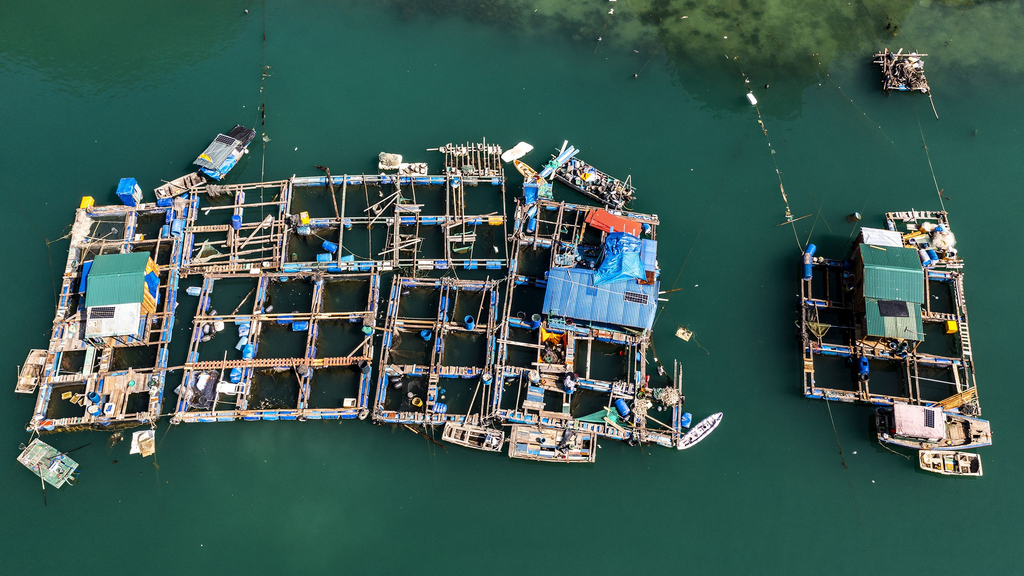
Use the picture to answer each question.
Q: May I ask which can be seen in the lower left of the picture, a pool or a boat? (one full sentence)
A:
Visible in the lower left of the picture is a boat.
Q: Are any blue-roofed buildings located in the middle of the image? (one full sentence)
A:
Yes, a blue-roofed building can be seen in the middle of the image.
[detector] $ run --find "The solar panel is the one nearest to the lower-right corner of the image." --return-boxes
[879,301,909,317]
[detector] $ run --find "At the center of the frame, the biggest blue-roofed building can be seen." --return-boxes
[542,224,660,339]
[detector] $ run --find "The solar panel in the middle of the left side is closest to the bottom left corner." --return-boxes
[90,306,115,319]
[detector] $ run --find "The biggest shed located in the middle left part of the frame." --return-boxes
[77,252,161,351]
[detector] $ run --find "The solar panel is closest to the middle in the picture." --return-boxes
[624,291,648,304]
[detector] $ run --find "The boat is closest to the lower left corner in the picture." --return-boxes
[18,439,92,506]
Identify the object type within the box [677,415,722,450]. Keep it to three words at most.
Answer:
boat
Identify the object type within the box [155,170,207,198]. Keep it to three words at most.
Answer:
boat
